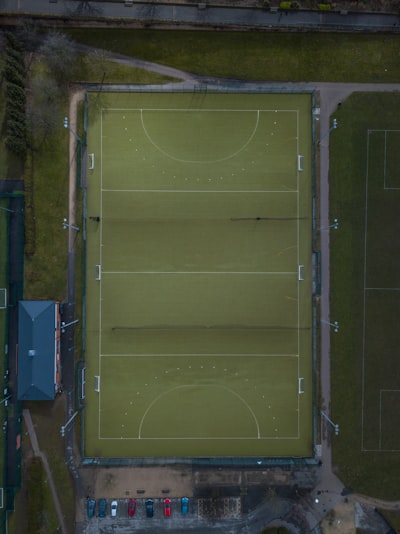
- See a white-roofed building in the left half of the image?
No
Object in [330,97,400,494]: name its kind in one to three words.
soccer field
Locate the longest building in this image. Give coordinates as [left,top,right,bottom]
[16,300,61,401]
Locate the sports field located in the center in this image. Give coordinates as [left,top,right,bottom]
[85,92,313,458]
